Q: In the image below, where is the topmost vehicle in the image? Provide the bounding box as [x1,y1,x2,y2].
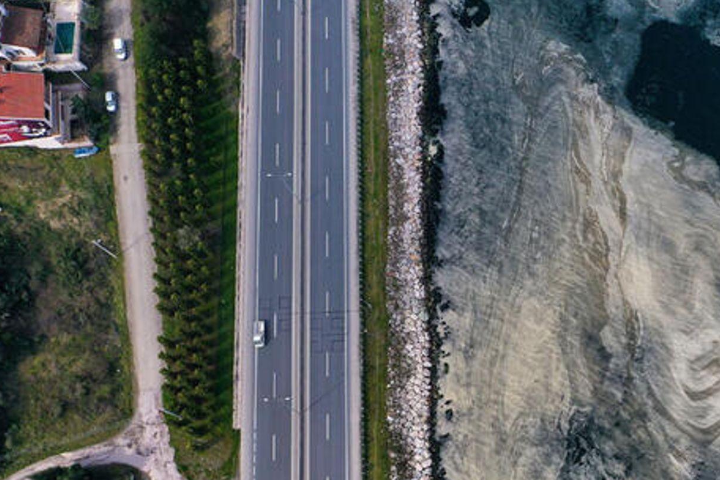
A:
[114,37,127,58]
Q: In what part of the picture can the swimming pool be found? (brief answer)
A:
top left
